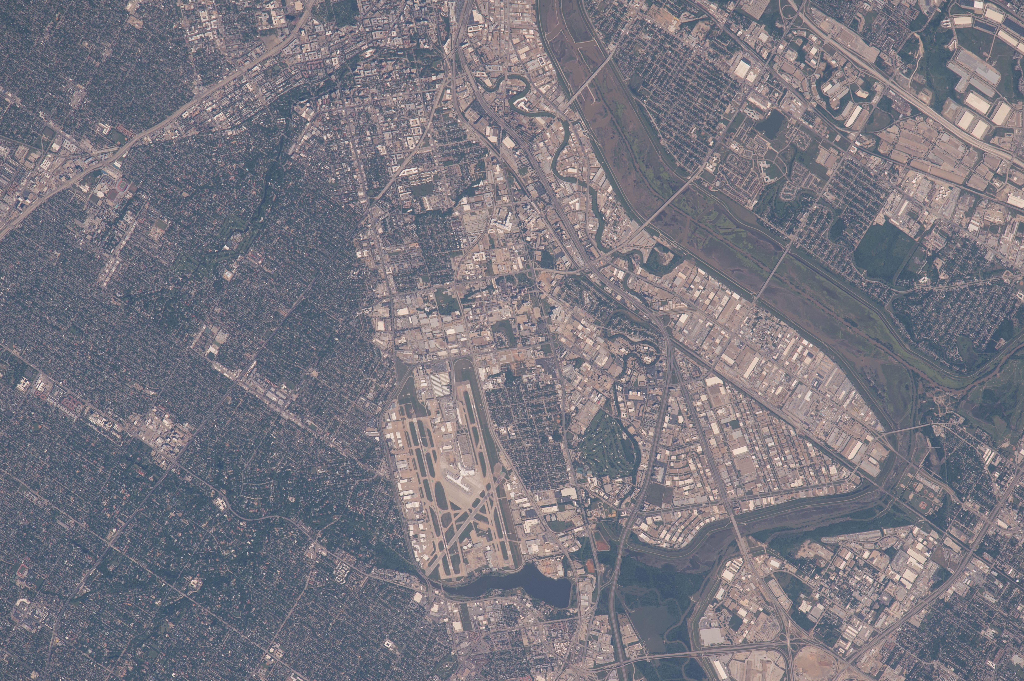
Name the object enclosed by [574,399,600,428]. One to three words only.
building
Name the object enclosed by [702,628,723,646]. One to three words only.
building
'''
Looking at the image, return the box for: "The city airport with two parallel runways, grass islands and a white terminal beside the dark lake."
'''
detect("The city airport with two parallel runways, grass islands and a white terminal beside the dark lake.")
[384,359,522,581]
